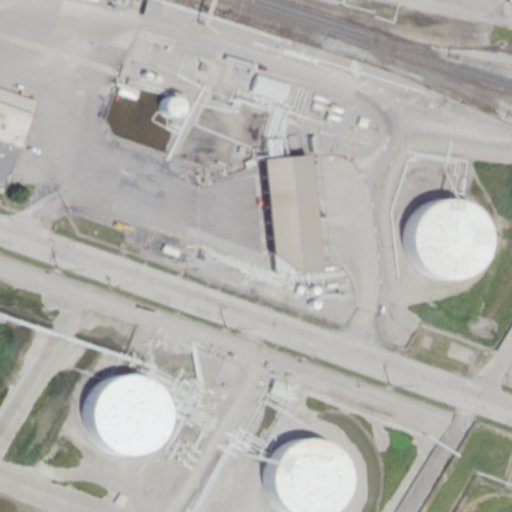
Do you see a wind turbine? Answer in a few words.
No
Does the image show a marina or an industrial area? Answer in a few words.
industrial area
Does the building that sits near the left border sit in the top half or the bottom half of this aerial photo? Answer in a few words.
top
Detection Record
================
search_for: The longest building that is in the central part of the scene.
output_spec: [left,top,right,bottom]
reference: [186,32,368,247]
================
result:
[260,156,324,272]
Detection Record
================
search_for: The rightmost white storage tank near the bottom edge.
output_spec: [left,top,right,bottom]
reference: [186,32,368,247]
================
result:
[261,434,358,512]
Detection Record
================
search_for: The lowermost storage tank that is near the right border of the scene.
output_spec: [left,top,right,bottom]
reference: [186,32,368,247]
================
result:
[400,196,499,282]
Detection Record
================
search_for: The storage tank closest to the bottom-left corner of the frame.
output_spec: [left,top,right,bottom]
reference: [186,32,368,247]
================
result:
[80,371,178,457]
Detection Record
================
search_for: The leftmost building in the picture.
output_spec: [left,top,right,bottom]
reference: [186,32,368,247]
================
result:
[0,88,36,147]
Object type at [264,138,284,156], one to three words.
shed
